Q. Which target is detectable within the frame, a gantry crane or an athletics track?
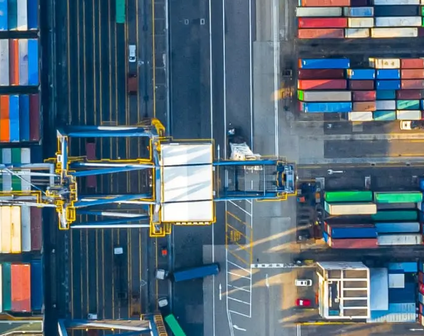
gantry crane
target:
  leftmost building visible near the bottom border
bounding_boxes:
[317,261,370,320]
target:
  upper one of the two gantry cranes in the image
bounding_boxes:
[0,109,300,236]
